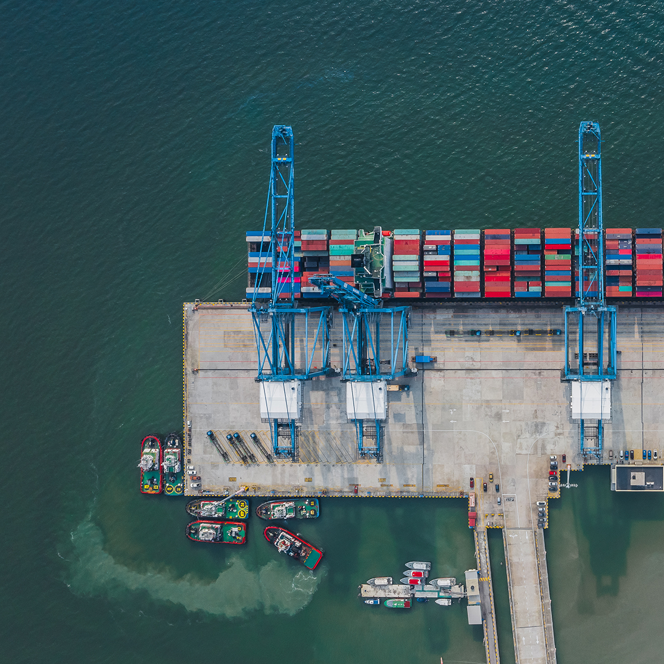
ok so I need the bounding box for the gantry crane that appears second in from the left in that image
[308,273,417,458]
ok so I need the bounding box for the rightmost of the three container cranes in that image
[557,123,620,458]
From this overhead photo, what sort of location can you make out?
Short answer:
port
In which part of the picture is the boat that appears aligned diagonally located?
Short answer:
bottom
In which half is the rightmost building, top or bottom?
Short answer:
bottom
